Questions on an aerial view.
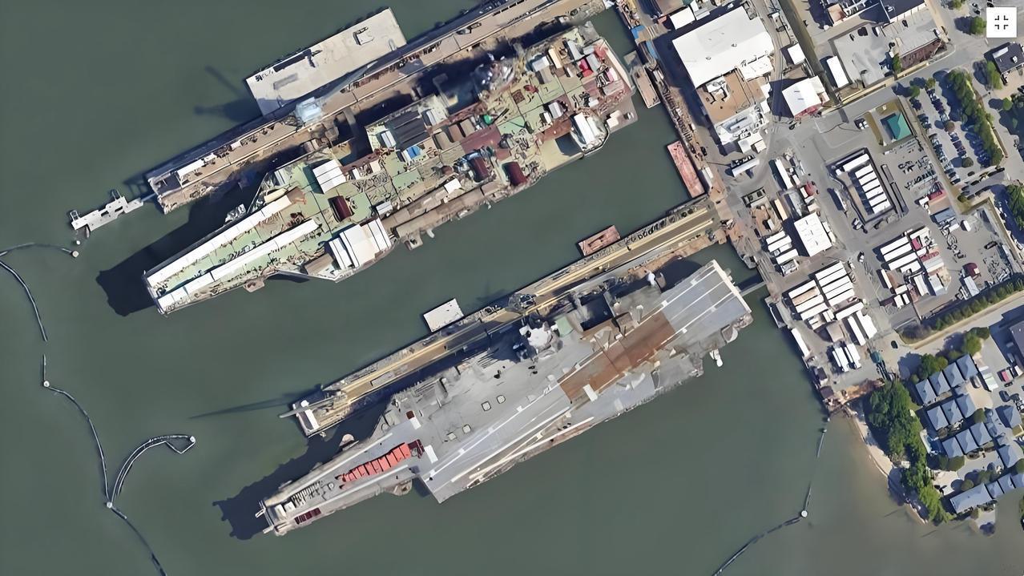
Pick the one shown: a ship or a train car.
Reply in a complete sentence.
The one in the frame is a ship.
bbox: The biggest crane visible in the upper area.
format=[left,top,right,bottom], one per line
[290,61,380,129]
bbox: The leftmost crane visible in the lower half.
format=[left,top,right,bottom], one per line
[278,385,350,419]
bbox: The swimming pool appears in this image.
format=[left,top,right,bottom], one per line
[922,430,939,456]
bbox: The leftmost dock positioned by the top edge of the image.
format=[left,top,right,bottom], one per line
[146,0,609,214]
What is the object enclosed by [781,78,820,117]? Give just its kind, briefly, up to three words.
building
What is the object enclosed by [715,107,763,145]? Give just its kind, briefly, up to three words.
building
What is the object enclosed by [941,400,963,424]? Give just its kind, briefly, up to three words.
house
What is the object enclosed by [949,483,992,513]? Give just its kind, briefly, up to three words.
house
